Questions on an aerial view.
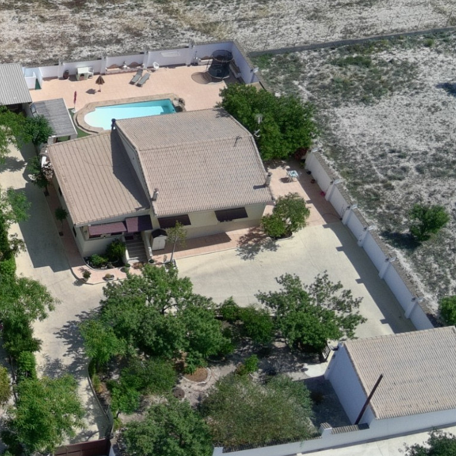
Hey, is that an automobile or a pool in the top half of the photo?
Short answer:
pool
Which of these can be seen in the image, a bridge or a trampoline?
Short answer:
trampoline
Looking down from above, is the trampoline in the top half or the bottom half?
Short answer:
top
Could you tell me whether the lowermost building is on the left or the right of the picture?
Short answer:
right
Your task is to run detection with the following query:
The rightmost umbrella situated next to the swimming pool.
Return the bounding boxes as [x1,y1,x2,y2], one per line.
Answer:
[93,73,108,94]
